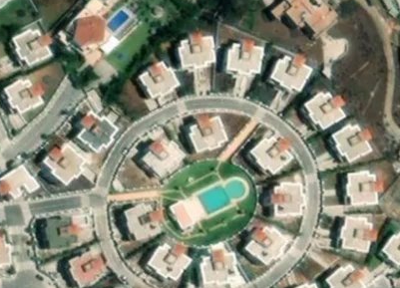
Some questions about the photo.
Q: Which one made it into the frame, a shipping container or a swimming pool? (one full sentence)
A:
I can see a swimming pool in this picture.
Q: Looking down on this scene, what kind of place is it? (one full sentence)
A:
This looks like a residential area.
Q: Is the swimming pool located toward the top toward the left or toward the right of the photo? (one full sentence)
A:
You can find the swimming pool located toward the top on the left side of the picture.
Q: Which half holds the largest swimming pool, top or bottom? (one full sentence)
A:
The bottom half of the photo is where the largest swimming pool is.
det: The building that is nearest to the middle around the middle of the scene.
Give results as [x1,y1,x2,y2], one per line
[189,116,232,157]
